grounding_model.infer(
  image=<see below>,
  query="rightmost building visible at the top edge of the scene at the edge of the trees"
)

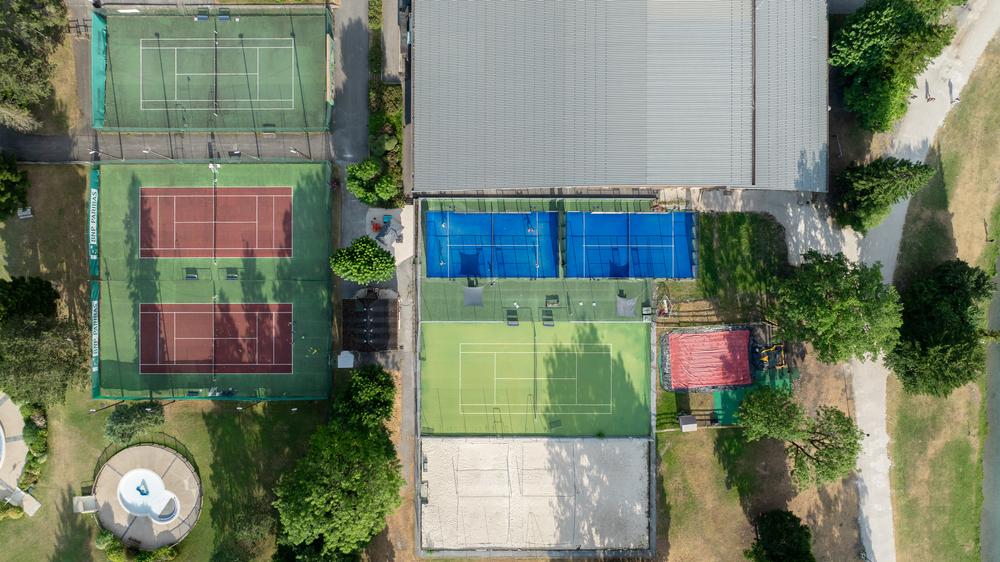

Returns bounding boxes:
[409,0,832,197]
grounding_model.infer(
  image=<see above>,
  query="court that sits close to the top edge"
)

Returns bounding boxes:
[105,16,330,131]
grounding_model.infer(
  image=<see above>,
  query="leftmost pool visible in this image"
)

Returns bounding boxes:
[0,396,26,493]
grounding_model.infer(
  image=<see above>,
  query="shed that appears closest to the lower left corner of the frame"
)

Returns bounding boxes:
[337,350,355,368]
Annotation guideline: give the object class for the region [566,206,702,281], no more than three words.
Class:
sports court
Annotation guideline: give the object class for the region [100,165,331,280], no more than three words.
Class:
tennis court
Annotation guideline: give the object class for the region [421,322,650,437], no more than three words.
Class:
tennis court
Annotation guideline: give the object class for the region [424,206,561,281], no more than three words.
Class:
sports court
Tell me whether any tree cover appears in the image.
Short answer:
Yes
